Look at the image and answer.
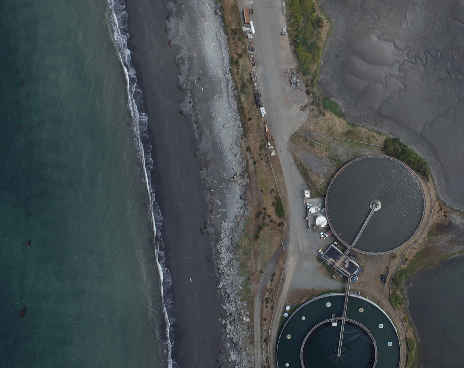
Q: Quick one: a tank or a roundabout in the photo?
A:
tank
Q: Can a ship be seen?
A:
No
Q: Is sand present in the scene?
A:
Yes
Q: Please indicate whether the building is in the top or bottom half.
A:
bottom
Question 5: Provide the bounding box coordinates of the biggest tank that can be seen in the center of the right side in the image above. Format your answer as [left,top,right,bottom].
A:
[326,155,425,256]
